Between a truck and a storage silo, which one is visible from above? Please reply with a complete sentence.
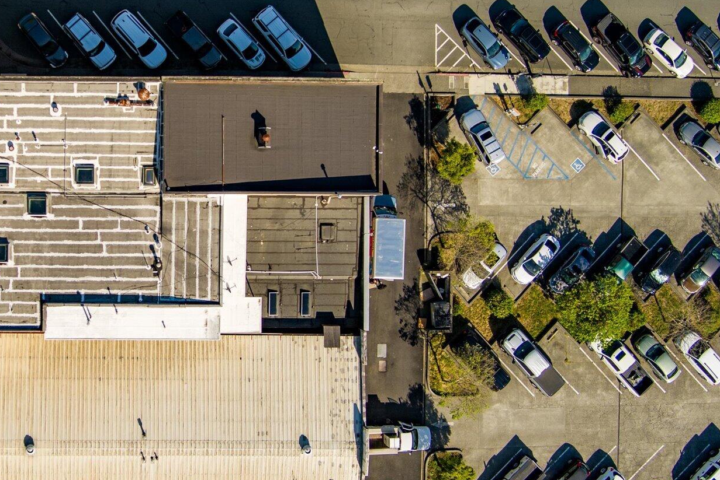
This aerial view contains a truck.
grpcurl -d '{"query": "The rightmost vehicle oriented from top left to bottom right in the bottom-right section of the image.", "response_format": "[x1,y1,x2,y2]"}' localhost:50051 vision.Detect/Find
[670,328,720,390]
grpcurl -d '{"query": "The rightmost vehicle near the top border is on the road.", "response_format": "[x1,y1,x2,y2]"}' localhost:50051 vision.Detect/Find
[681,18,720,73]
